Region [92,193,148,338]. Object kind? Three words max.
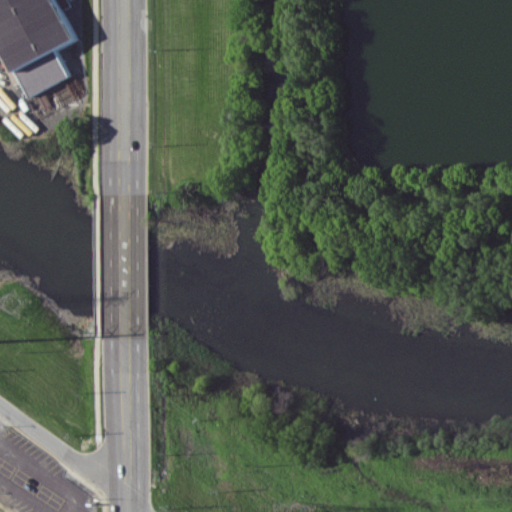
bridge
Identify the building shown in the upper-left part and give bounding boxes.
[0,0,76,97]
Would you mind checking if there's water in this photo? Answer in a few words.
Yes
